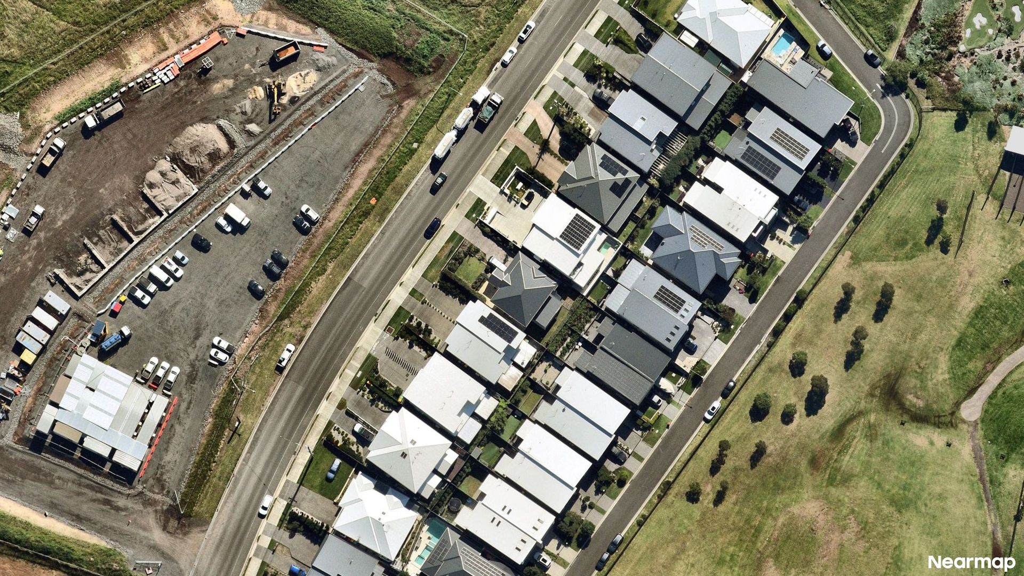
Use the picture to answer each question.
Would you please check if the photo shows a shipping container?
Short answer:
Yes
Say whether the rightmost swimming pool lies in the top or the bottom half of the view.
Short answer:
top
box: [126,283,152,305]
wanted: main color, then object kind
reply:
white truck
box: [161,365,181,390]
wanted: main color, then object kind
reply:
white vehicle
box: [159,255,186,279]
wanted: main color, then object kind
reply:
white truck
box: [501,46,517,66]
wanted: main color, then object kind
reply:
white car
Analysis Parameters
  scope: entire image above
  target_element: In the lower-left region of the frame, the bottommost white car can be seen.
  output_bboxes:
[258,494,274,518]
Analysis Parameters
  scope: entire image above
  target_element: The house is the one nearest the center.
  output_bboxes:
[488,251,563,330]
